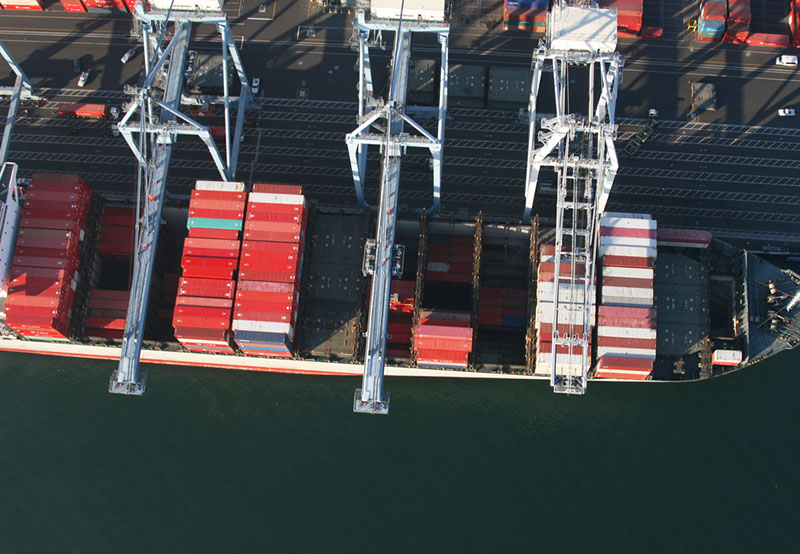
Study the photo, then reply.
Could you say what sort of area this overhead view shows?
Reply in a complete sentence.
This image shows a port.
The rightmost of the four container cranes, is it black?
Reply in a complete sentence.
No, from above the rightmost of the four container cranes looks white.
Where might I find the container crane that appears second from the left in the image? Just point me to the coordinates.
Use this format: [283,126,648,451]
[105,0,266,399]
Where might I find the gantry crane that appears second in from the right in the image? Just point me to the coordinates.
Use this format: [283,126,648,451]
[341,0,456,415]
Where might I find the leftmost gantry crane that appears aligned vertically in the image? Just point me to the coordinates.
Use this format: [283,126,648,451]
[0,40,48,188]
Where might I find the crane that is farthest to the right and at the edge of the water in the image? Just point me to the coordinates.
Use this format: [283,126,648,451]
[512,1,631,399]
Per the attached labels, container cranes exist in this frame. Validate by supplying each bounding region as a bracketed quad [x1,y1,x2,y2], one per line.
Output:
[105,0,266,399]
[0,40,48,188]
[341,0,456,415]
[512,1,631,399]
